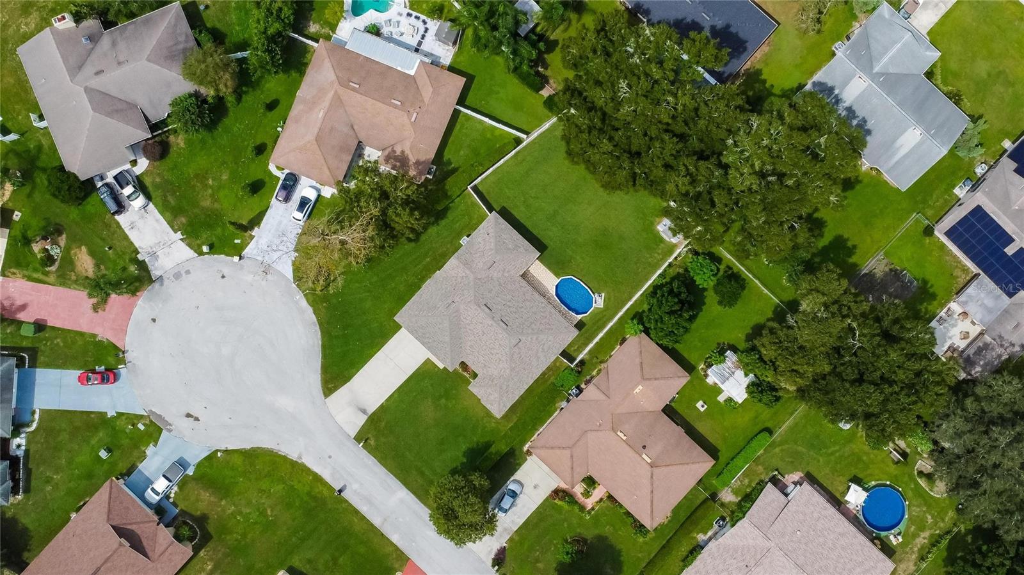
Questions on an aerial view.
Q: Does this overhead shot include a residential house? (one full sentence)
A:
Yes, there's a residential house down there.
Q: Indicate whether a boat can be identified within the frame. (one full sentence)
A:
No, I can't see a single boat in this photo.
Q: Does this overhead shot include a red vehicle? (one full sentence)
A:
Yes, the frame does contain a red vehicle.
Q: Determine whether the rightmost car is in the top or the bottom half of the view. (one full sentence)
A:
Seen from above, the rightmost car lies in the top half of the view.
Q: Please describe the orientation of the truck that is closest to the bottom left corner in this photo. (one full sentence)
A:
In this picture, the truck that is closest to the bottom left corner is oriented at an angle.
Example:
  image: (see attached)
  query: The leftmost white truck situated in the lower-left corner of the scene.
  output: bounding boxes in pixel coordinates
[144,460,186,504]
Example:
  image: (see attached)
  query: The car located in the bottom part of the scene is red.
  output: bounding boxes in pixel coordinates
[78,370,117,387]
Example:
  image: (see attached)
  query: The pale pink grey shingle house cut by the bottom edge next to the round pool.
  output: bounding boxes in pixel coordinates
[681,481,896,575]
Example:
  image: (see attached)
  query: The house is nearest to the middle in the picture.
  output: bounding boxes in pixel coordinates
[393,211,579,418]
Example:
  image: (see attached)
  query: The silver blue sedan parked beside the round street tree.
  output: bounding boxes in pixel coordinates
[497,479,522,517]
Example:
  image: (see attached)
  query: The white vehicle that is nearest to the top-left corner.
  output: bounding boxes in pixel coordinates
[110,168,147,211]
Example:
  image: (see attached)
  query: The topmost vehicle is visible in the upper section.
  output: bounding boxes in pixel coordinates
[895,0,922,21]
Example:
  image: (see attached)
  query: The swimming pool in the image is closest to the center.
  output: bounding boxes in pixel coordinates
[554,276,594,316]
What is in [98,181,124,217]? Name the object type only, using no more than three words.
car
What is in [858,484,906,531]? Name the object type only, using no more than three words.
swimming pool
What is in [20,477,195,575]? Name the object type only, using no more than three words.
house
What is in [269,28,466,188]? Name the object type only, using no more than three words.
house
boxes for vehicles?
[293,185,318,223]
[895,0,922,21]
[497,479,522,517]
[110,168,147,211]
[144,460,186,504]
[78,370,117,387]
[275,170,300,206]
[98,181,124,217]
